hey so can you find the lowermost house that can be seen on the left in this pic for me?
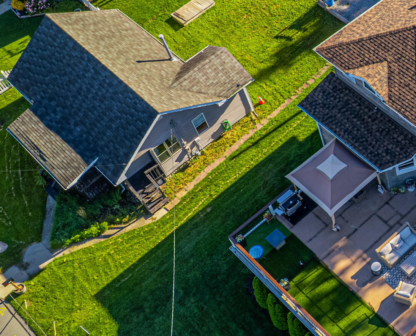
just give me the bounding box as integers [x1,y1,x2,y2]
[6,9,271,219]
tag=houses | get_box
[6,9,271,219]
[296,0,416,189]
